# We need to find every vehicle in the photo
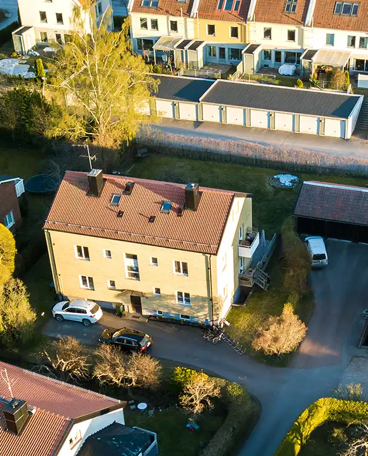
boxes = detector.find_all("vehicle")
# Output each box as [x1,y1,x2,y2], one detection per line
[304,239,330,269]
[97,327,157,357]
[50,299,108,330]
